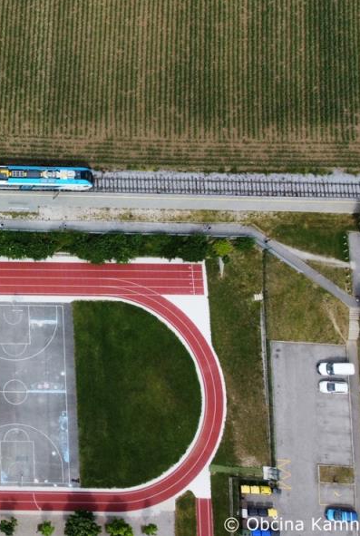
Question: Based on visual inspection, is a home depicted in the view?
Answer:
No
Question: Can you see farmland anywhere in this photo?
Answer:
Yes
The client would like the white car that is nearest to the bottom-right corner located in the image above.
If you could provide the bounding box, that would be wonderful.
[316,380,349,395]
